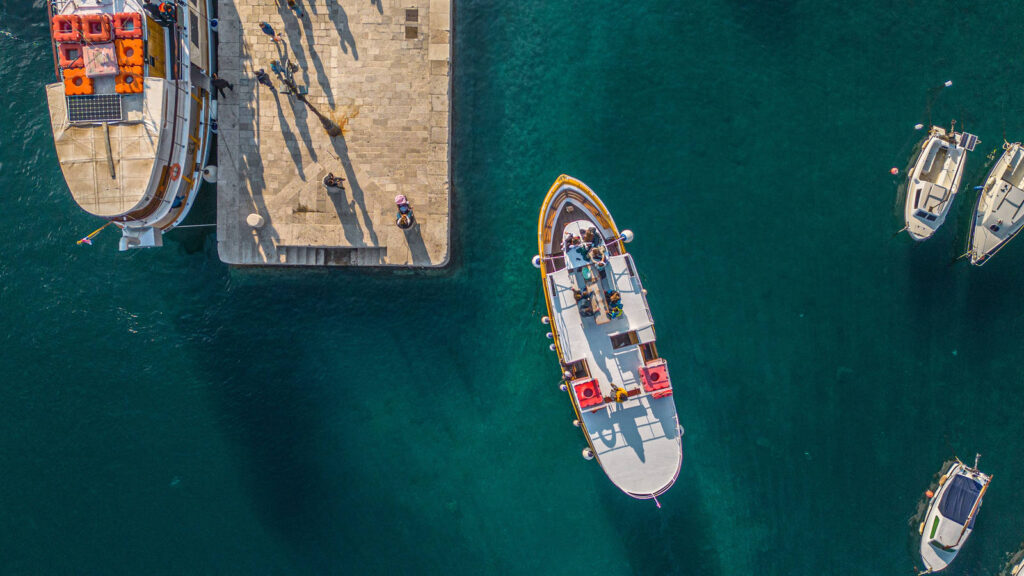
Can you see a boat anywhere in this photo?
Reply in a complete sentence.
Yes, a boat is visible in the scene.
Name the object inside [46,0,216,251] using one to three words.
ship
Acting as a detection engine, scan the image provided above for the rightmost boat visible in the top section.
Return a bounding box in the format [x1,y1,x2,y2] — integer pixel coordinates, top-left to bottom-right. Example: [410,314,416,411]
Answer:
[968,141,1024,267]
